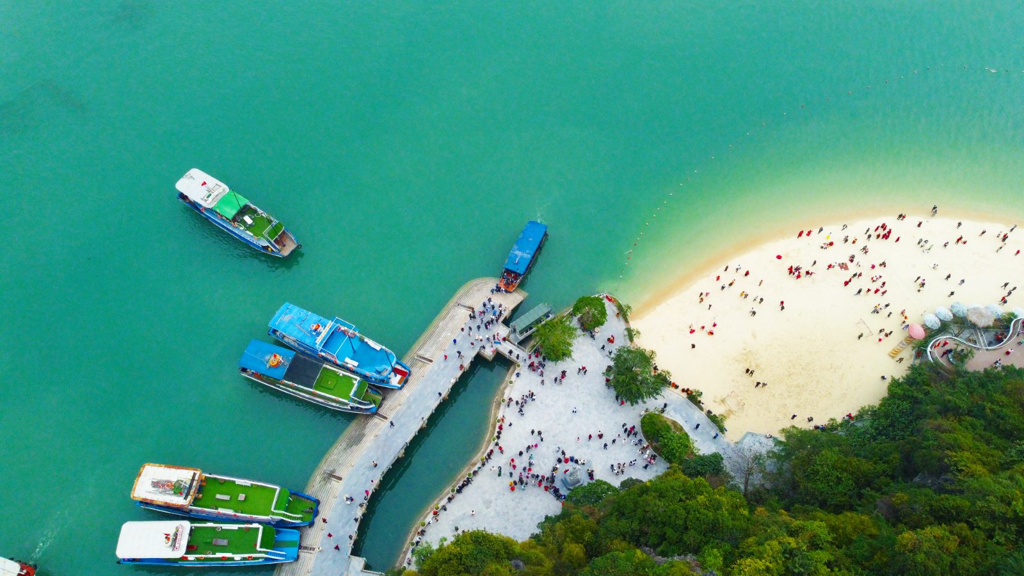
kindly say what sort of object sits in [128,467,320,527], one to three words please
boat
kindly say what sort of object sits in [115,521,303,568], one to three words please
boat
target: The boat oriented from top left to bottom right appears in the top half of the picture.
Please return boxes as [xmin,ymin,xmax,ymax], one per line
[174,170,299,260]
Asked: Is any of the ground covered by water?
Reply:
Yes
